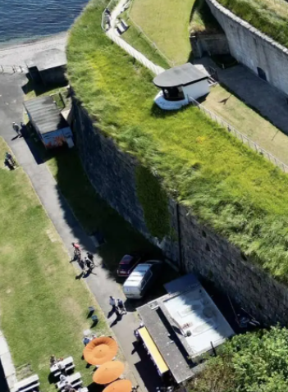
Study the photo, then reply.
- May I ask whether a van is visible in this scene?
Yes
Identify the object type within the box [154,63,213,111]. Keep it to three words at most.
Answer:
shed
